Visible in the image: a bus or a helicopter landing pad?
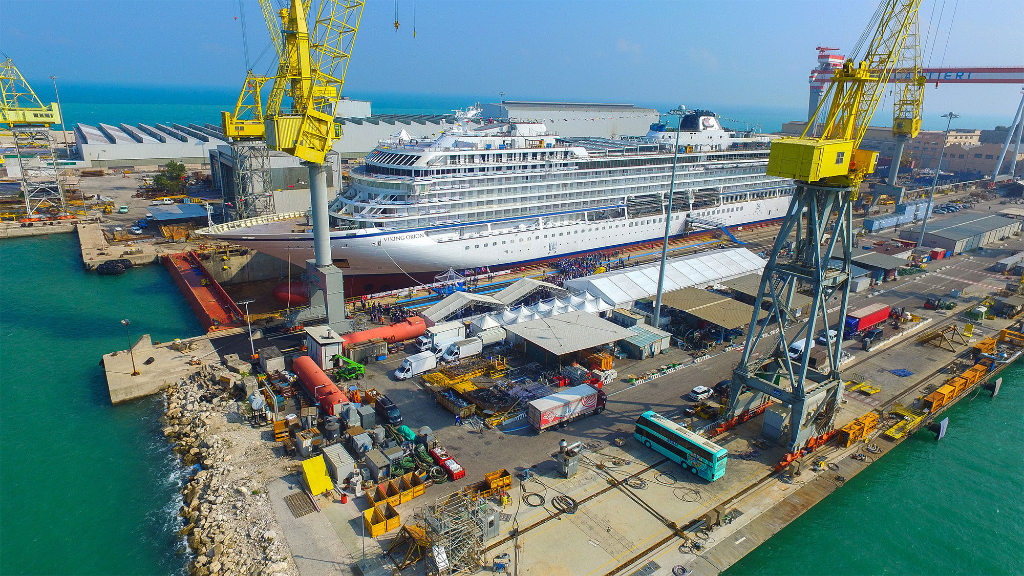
bus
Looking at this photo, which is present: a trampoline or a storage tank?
storage tank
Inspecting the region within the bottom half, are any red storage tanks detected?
Yes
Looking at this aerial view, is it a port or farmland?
port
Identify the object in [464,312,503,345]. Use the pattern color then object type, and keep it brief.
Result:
white tent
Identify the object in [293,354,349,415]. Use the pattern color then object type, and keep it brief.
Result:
red storage tank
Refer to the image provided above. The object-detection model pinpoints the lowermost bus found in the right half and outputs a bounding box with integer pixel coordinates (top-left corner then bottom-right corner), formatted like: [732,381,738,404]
[632,410,730,481]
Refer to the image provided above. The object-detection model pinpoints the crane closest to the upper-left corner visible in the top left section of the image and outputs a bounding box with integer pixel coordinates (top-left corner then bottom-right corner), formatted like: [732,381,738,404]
[0,56,79,222]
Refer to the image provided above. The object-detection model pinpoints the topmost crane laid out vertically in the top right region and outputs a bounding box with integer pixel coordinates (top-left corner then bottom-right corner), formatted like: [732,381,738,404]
[867,0,948,204]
